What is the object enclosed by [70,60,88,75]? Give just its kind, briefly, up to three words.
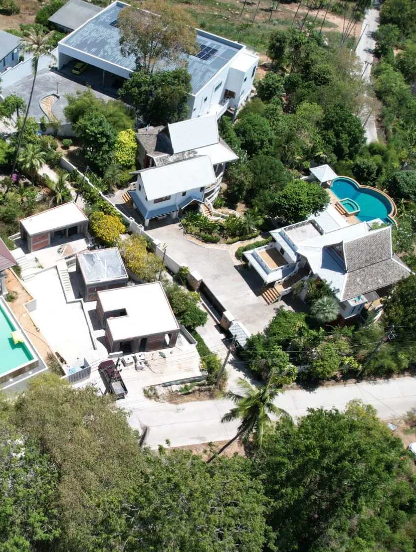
car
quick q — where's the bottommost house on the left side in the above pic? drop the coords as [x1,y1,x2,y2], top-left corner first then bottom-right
[94,280,179,358]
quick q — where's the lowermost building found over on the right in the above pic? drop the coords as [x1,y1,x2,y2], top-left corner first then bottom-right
[241,205,414,330]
